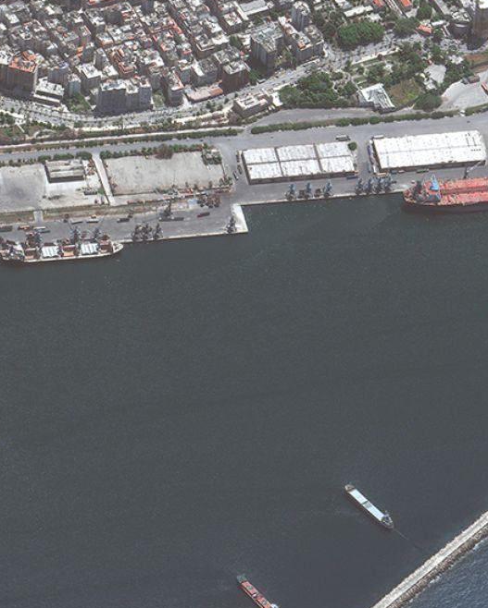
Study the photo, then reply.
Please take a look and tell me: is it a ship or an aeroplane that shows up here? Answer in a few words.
ship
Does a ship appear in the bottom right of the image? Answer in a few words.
Yes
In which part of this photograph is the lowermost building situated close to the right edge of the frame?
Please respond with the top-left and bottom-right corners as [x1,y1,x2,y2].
[373,130,485,173]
